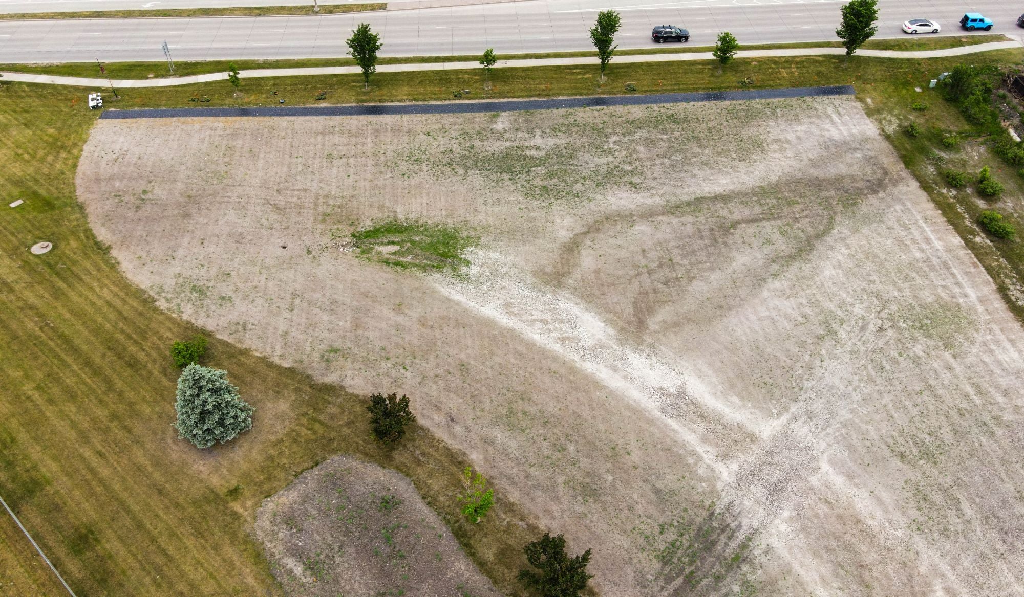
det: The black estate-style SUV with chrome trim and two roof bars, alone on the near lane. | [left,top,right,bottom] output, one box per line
[652,22,691,43]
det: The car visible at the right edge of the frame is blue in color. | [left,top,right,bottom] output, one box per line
[961,13,996,31]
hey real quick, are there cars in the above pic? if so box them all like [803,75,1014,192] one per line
[652,22,691,43]
[961,13,996,31]
[1016,13,1024,28]
[903,18,942,34]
